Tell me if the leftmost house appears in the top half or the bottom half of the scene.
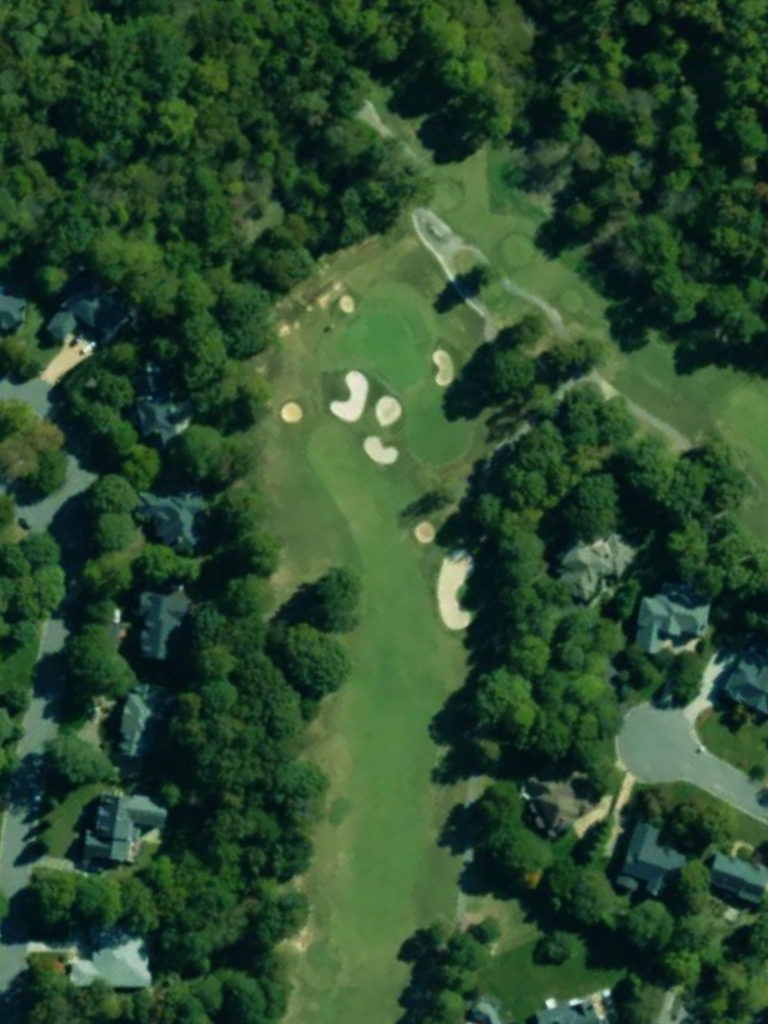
top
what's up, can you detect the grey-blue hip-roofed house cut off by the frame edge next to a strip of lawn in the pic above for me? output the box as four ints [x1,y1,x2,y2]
[0,288,30,334]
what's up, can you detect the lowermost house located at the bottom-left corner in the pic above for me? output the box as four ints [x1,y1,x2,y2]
[67,934,151,990]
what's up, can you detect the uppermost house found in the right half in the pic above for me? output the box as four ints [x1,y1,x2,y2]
[557,532,637,602]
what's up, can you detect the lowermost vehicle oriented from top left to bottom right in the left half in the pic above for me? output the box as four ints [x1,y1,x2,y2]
[16,516,30,531]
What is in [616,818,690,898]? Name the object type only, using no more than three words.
house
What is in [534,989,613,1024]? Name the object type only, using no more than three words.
house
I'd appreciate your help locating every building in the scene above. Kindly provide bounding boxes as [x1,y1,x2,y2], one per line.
[461,998,500,1024]
[0,288,30,334]
[139,586,191,659]
[520,773,590,841]
[616,818,690,898]
[557,532,637,602]
[133,489,203,550]
[636,583,714,654]
[115,681,159,758]
[67,934,151,990]
[719,649,768,712]
[43,284,131,342]
[534,989,613,1024]
[138,373,194,446]
[707,851,768,906]
[82,792,168,864]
